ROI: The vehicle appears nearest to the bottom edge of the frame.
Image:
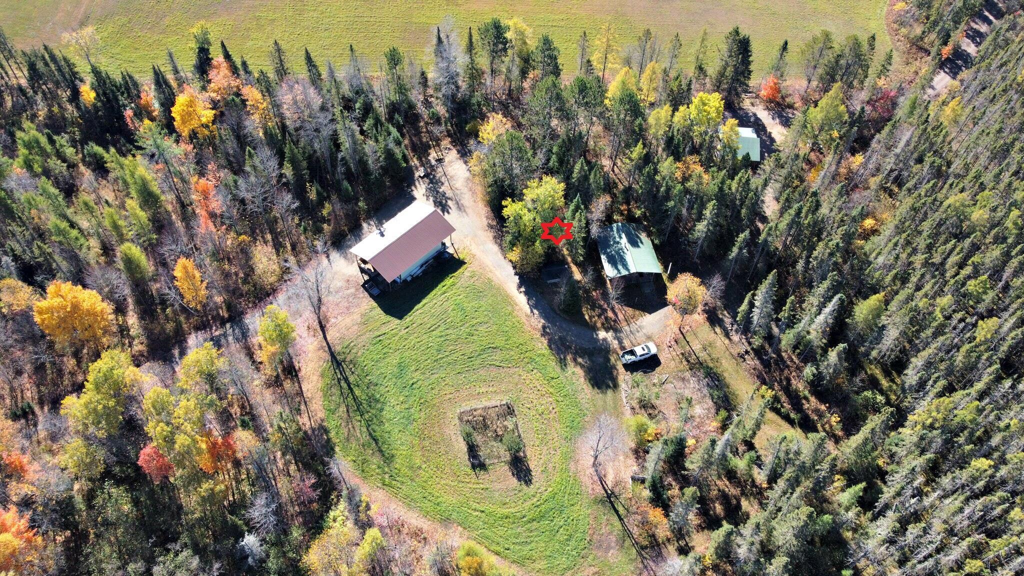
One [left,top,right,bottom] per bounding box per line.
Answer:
[620,341,658,361]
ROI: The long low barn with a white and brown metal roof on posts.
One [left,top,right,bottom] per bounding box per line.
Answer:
[346,202,460,292]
